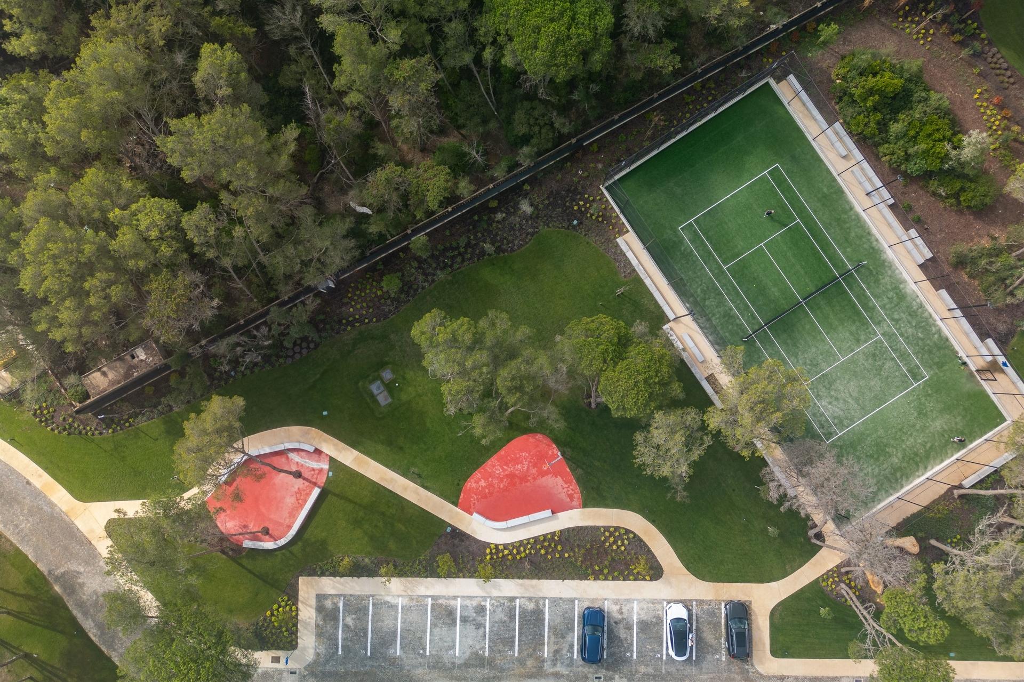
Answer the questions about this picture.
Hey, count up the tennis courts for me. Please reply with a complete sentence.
Altogether the scene contains 1 tennis court.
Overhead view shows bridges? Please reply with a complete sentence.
No, no bridge can be seen from above.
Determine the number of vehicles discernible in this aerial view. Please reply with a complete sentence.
The picture shows 3 vehicles.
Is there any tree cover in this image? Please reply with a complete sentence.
Yes, there is tree cover in the image.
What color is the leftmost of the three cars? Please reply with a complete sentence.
In this view, the leftmost of the three cars is blue.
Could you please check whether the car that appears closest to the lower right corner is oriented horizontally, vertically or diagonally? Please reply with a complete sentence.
From this overhead view, the car that appears closest to the lower right corner appears to run vertically.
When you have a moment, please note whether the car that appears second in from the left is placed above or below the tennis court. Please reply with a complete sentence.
As seen from overhead, the car that appears second in from the left falls below the tennis court in the picture.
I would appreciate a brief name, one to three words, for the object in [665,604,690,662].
car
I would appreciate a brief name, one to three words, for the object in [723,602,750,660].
car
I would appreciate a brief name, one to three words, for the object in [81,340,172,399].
shed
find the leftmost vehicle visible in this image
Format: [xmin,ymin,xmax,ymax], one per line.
[581,607,608,665]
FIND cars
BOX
[581,607,608,665]
[723,602,750,660]
[665,604,690,662]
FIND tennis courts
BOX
[608,73,1019,541]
